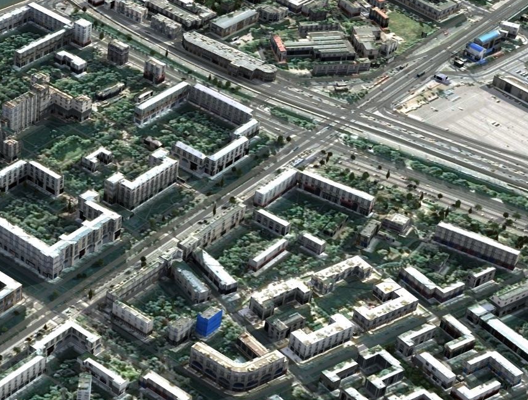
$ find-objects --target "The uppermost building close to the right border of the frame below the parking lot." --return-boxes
[433,218,520,271]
